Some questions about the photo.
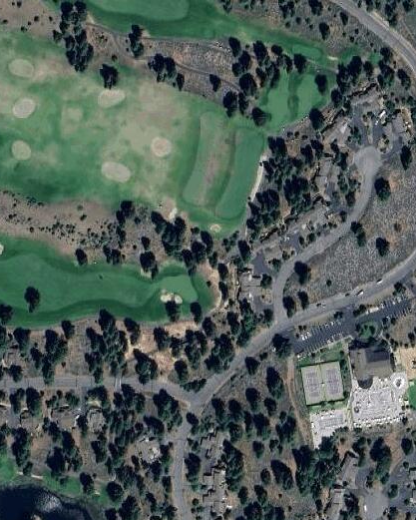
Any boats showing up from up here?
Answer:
No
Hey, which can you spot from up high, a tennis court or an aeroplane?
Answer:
tennis court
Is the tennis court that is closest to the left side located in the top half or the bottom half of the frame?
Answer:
bottom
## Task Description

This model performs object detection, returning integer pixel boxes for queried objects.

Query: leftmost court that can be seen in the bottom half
[302,364,326,405]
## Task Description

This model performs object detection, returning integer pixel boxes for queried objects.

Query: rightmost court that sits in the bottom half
[321,362,346,402]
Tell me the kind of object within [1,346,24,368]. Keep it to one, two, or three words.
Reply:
house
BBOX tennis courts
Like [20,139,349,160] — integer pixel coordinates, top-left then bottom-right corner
[321,362,346,402]
[302,364,326,405]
